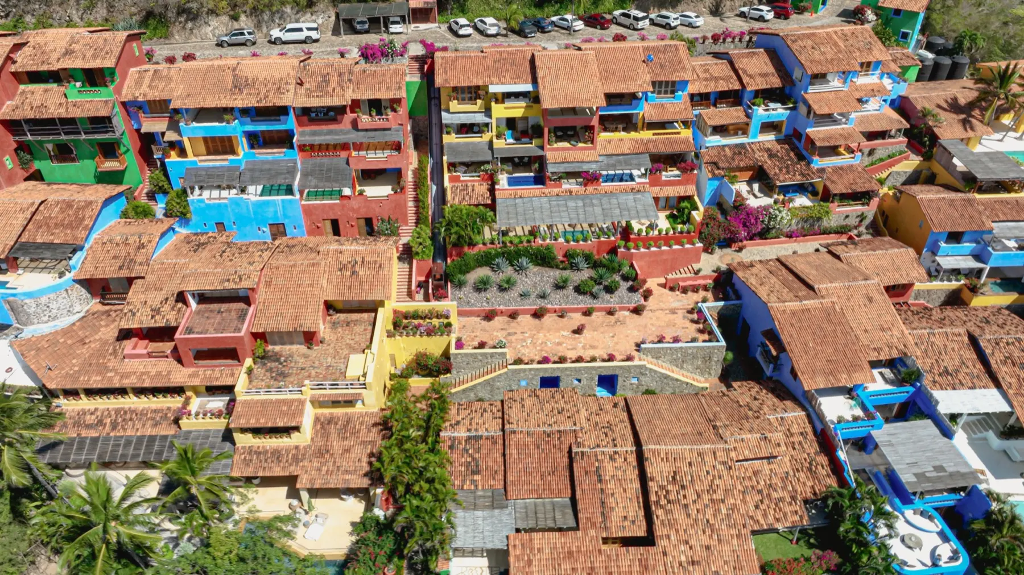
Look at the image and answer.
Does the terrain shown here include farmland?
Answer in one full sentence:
No, the picture contains no farmland.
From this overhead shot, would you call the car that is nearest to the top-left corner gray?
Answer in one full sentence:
Yes, the car that is nearest to the top-left corner appears gray.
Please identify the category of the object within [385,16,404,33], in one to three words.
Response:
car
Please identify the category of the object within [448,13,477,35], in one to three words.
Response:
car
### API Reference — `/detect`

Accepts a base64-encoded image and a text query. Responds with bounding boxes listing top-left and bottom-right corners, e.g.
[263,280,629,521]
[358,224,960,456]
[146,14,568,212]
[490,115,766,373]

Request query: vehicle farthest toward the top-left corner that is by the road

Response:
[213,25,258,46]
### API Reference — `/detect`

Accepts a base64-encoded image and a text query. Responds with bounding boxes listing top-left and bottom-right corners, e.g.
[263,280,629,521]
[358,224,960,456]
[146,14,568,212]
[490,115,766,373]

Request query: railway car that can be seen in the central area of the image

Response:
[432,268,444,287]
